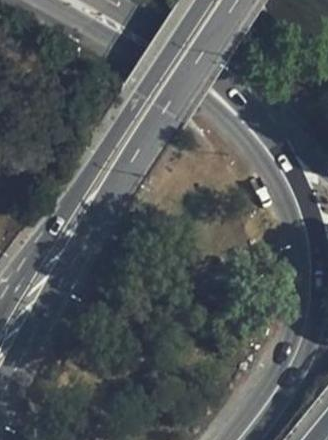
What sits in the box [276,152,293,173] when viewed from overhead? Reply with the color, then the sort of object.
white car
